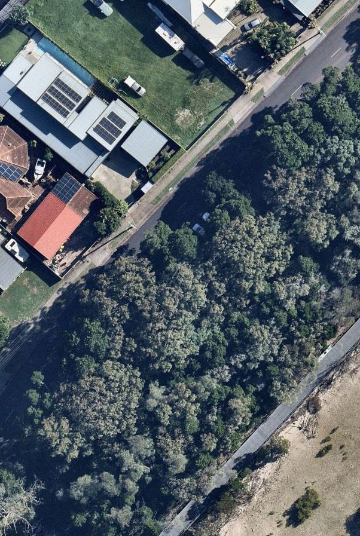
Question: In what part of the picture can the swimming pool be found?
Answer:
top left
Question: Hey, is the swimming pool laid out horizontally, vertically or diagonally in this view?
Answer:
diagonally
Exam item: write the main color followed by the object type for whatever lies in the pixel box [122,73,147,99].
white truck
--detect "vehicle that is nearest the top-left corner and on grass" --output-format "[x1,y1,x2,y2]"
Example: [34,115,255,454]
[91,0,114,18]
